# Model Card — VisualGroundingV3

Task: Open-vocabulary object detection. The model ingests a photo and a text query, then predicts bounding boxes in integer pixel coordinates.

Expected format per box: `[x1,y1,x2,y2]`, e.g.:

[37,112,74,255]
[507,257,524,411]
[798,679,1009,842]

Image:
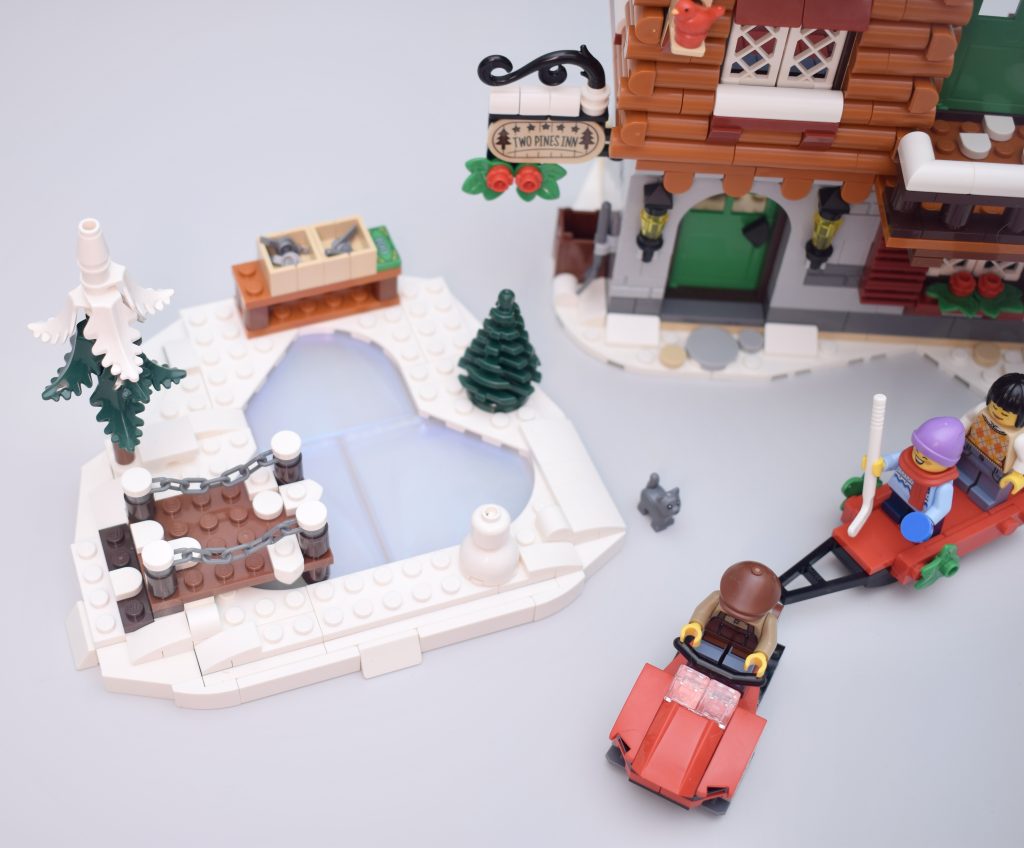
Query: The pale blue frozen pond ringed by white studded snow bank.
[67,277,623,711]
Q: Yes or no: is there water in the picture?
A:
Yes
